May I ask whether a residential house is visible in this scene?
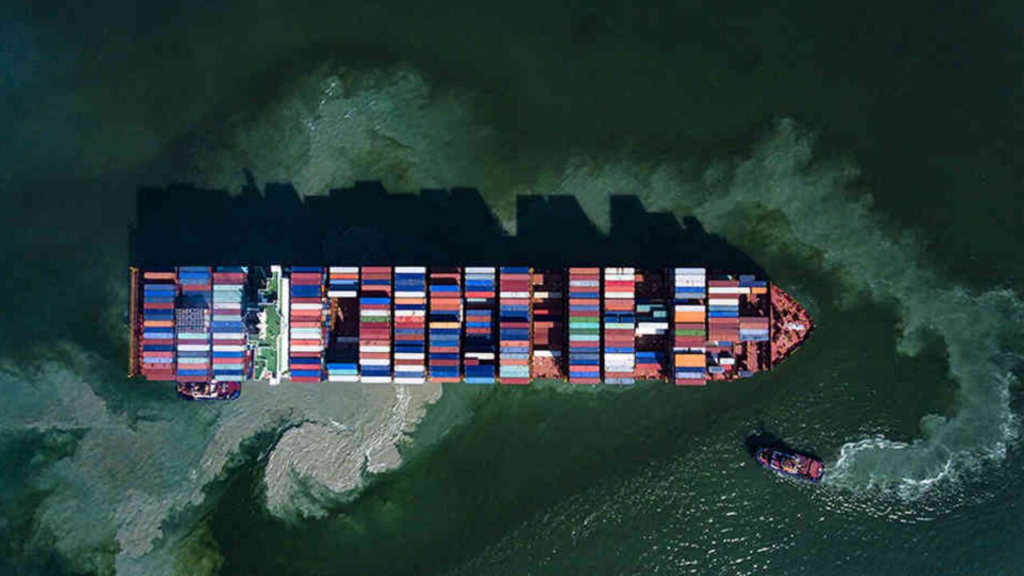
No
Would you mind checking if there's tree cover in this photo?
No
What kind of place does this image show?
port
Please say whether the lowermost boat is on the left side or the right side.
right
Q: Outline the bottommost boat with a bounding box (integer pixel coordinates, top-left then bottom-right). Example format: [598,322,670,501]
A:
[756,448,828,485]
